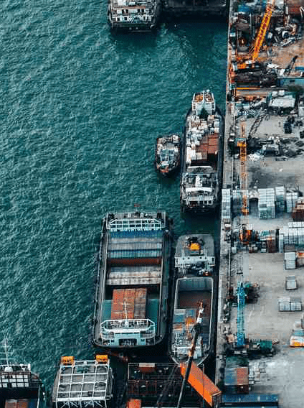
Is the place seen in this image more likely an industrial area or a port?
port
